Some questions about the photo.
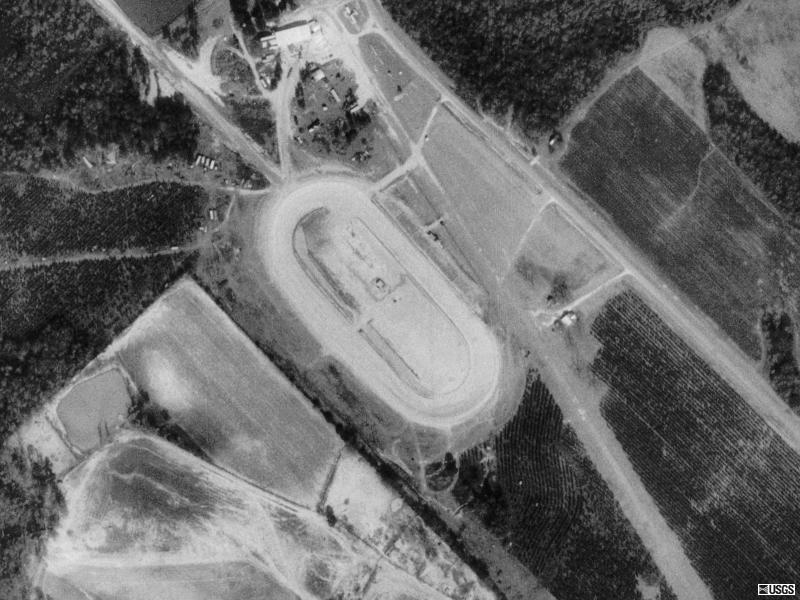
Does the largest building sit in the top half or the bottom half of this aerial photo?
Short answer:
top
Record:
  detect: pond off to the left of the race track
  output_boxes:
[57,368,131,453]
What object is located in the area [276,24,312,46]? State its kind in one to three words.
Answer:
building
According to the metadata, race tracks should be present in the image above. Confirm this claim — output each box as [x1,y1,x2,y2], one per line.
[258,177,499,422]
